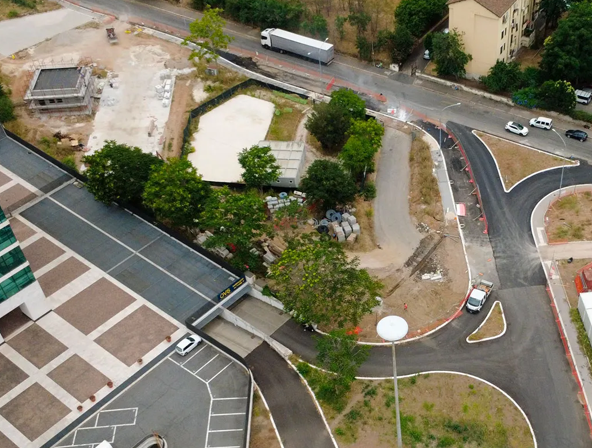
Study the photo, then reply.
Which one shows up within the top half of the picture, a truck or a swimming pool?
truck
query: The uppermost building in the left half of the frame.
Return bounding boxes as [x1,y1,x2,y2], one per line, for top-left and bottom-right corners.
[15,56,102,117]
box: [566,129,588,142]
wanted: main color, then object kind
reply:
black vehicle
